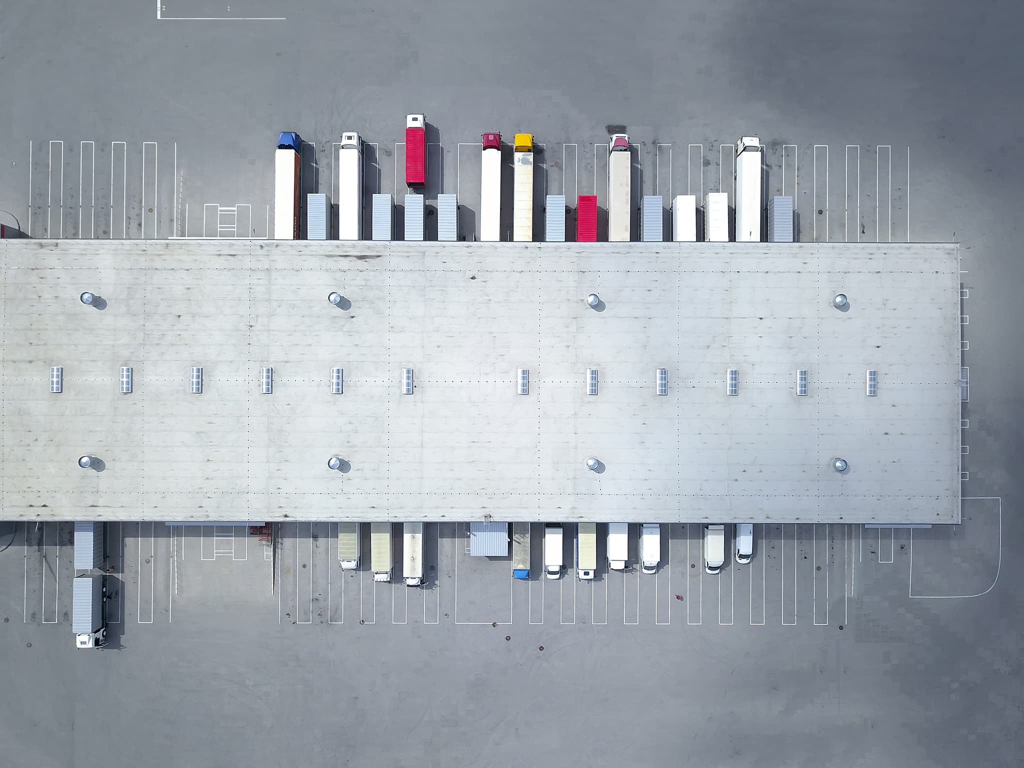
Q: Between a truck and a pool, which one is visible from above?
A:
truck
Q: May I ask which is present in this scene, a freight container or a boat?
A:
freight container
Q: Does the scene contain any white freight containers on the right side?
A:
Yes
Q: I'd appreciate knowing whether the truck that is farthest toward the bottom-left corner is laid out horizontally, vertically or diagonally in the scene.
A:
vertically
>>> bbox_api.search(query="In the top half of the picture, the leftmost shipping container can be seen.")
[307,194,334,240]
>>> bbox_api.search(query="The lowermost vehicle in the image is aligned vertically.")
[73,573,109,650]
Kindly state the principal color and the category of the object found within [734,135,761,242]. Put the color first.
white truck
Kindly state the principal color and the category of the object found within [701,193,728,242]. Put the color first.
white shipping container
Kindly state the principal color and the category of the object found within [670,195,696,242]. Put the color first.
white shipping container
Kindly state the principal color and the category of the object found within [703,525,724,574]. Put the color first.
white vehicle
